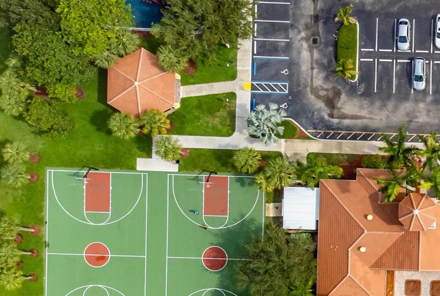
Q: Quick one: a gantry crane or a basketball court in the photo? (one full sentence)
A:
It is a basketball court that can be seen here.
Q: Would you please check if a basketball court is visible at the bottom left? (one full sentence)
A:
Yes, at the bottom left there is a basketball court.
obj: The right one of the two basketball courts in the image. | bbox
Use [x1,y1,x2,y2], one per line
[155,171,266,296]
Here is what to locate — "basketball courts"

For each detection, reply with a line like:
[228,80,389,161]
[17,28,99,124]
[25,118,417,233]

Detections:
[44,168,157,296]
[155,171,266,296]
